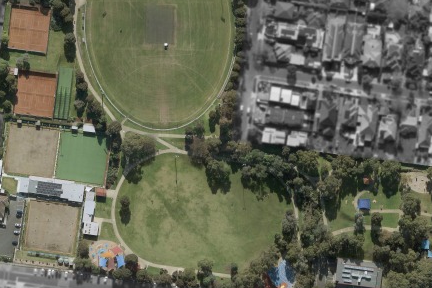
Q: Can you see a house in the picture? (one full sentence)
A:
Yes, the frame does contain a house.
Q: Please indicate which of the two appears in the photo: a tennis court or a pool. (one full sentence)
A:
Visible in the photo is a tennis court.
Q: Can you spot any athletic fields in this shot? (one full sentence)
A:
Yes, there's an athletic field here.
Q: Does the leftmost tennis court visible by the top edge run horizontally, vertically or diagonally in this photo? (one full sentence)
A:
In this picture, the leftmost tennis court visible by the top edge lies vertically.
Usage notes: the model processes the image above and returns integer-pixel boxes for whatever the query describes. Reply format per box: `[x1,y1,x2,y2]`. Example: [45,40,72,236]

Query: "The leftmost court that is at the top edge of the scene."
[8,8,32,50]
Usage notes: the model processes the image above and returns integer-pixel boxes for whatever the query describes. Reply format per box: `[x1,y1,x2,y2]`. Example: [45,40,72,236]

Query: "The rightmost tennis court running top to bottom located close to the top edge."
[28,10,52,52]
